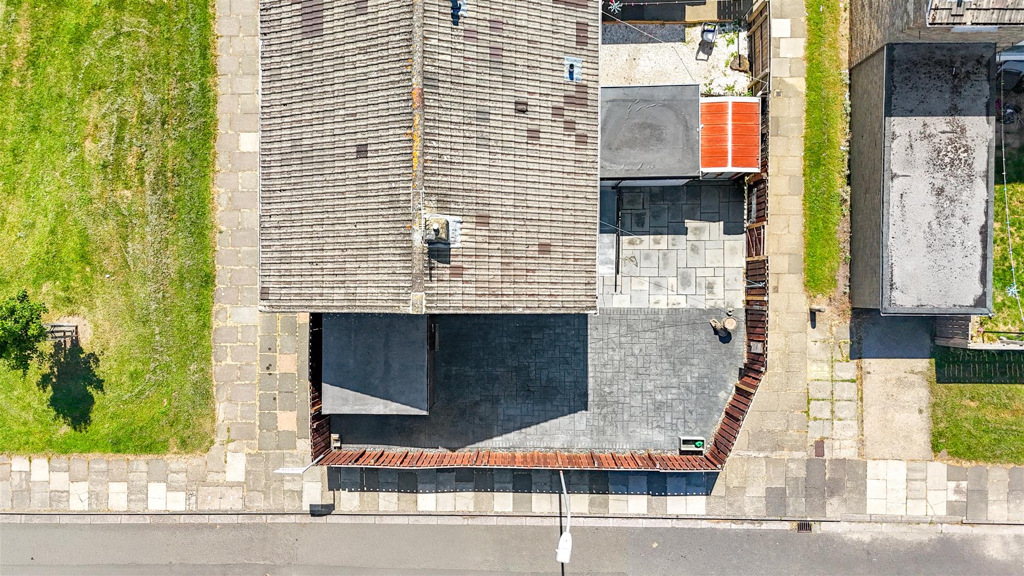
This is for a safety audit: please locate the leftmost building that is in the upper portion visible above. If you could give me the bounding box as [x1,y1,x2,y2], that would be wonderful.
[257,0,602,317]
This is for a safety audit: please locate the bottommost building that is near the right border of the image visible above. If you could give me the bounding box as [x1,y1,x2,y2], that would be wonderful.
[851,43,997,319]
